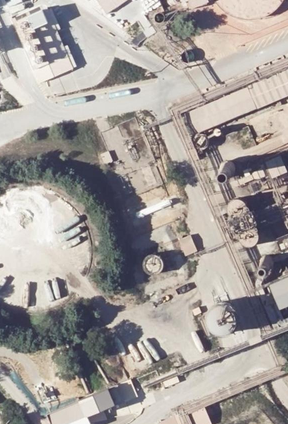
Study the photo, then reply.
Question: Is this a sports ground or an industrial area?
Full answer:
This image shows an industrial area.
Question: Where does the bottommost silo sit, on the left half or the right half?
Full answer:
The bottommost silo is on the right side of the image.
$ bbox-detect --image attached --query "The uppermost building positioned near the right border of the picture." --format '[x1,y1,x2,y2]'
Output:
[189,70,288,132]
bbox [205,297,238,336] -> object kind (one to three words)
silo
